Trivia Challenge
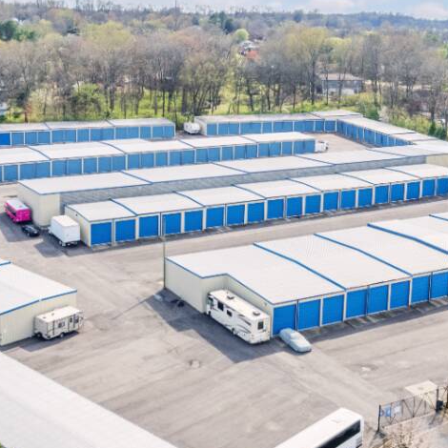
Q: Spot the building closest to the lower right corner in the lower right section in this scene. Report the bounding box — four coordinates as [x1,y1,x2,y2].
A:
[403,381,437,408]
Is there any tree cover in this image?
Yes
